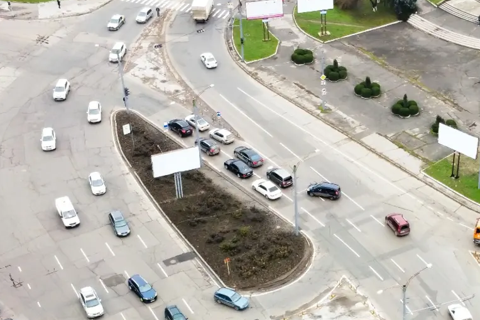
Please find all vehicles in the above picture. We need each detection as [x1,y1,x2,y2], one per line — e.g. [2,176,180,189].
[201,54,217,70]
[109,41,125,60]
[89,172,105,195]
[129,274,154,303]
[166,305,189,320]
[449,303,472,320]
[40,129,55,149]
[212,286,253,311]
[224,160,253,179]
[385,213,410,237]
[235,148,263,167]
[252,180,281,200]
[192,0,211,21]
[265,168,294,189]
[198,139,222,156]
[107,14,125,30]
[210,128,235,145]
[54,77,70,98]
[135,4,154,23]
[109,211,130,237]
[81,288,104,318]
[307,181,342,199]
[56,194,78,225]
[172,120,194,137]
[87,103,102,122]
